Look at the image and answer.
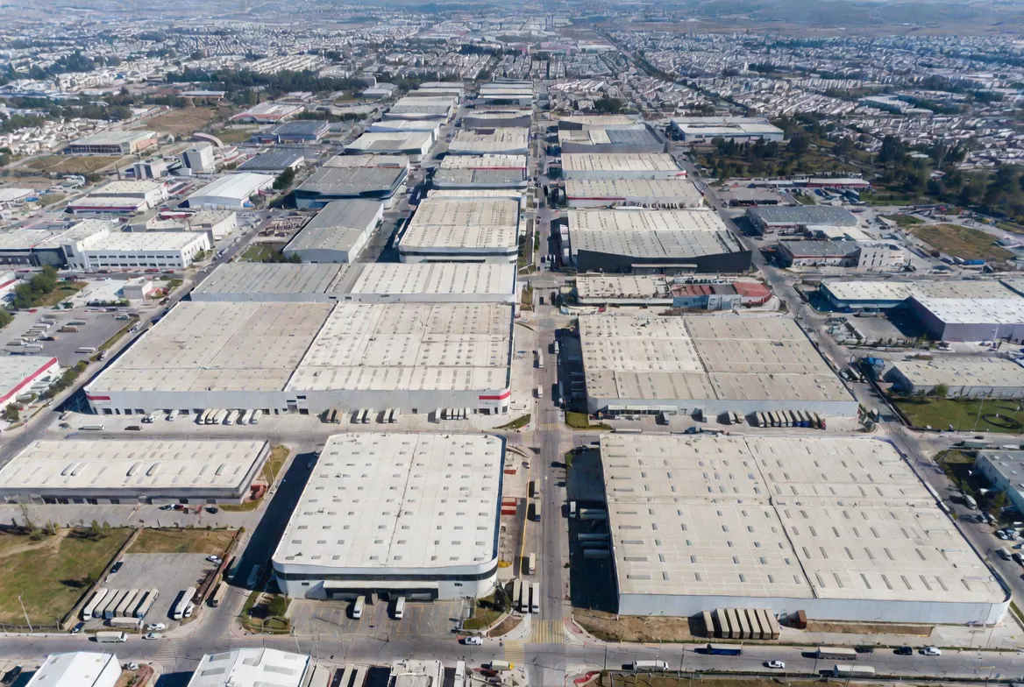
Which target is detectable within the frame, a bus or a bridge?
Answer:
bus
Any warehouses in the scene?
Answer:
Yes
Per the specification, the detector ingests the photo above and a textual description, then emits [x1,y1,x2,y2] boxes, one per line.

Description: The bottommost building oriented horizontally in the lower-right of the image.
[596,435,1005,621]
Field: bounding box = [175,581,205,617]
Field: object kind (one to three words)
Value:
bus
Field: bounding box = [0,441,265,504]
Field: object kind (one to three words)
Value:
building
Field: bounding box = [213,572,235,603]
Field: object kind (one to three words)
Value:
truck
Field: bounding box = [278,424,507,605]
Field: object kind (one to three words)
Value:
warehouse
